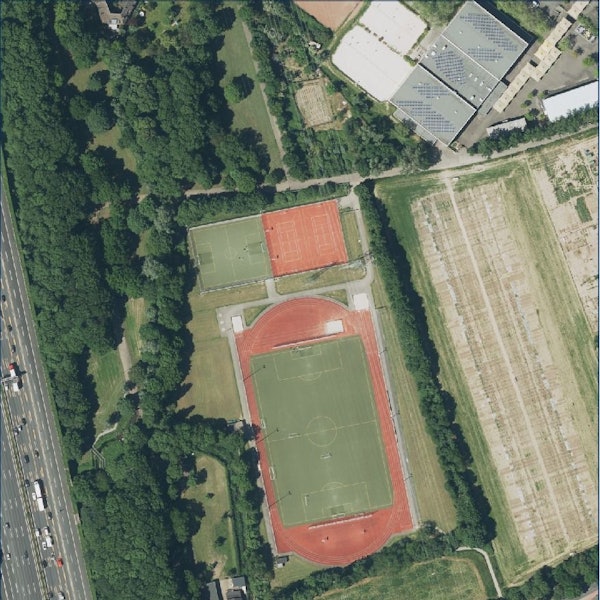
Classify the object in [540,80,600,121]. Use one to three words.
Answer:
building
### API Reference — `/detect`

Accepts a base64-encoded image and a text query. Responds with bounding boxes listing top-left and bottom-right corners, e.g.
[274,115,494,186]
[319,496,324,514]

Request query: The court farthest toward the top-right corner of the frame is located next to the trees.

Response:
[262,200,347,276]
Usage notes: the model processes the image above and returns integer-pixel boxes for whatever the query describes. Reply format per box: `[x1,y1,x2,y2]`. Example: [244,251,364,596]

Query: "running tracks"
[234,296,413,566]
